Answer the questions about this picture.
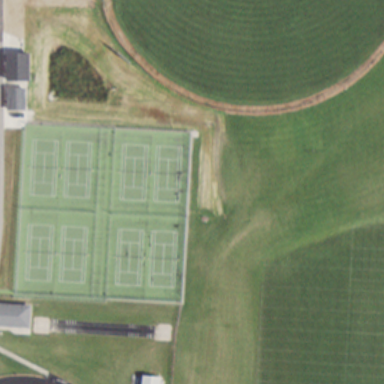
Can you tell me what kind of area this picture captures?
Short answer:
sports ground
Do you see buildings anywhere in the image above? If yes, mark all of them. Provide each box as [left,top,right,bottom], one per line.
[0,302,32,328]
[140,374,161,384]
[6,85,26,110]
[6,52,30,81]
